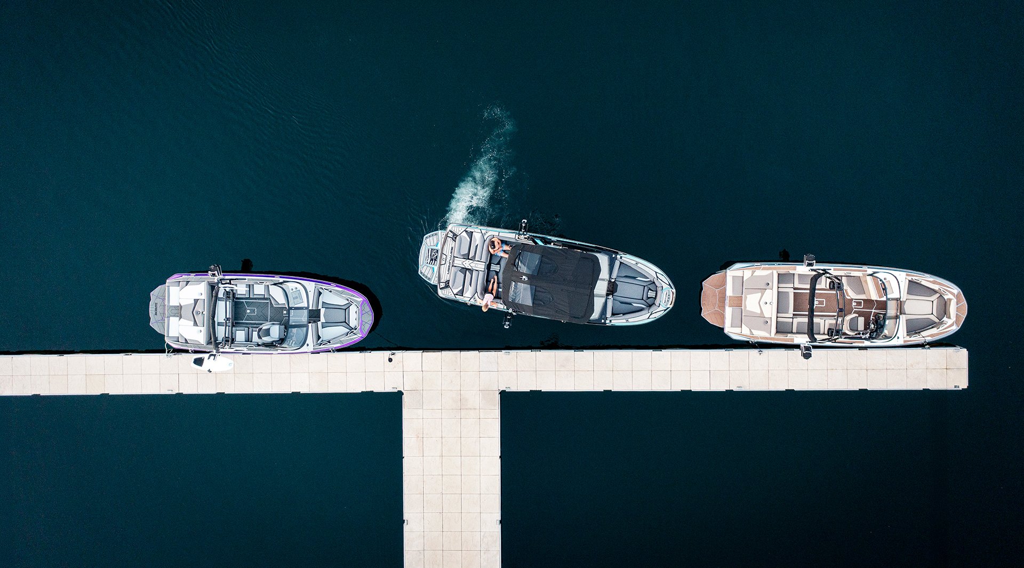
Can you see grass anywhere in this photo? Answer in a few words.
No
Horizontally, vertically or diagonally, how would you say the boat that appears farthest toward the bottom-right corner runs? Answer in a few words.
horizontally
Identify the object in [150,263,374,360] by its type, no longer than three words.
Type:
boat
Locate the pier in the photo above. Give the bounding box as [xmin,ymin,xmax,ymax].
[0,347,968,568]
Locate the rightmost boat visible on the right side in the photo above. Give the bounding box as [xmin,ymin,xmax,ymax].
[700,252,967,360]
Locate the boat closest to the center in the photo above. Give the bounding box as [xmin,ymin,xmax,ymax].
[419,219,676,329]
